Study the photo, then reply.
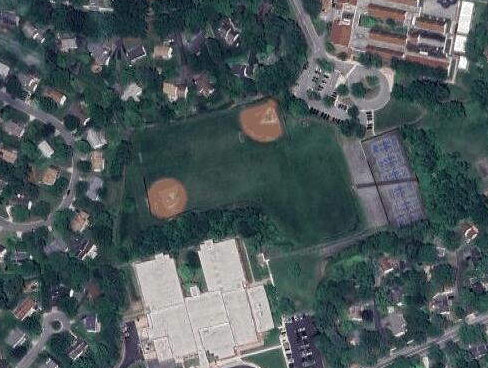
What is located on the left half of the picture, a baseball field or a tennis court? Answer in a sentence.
The feature located on the left half of the picture is a baseball field.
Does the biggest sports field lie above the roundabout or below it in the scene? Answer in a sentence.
In the image, the biggest sports field sits below the roundabout.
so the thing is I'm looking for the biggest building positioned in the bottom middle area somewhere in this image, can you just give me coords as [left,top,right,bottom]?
[135,238,275,365]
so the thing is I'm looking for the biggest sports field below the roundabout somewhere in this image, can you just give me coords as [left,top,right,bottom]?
[121,98,368,244]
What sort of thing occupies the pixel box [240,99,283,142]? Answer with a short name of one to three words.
baseball field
